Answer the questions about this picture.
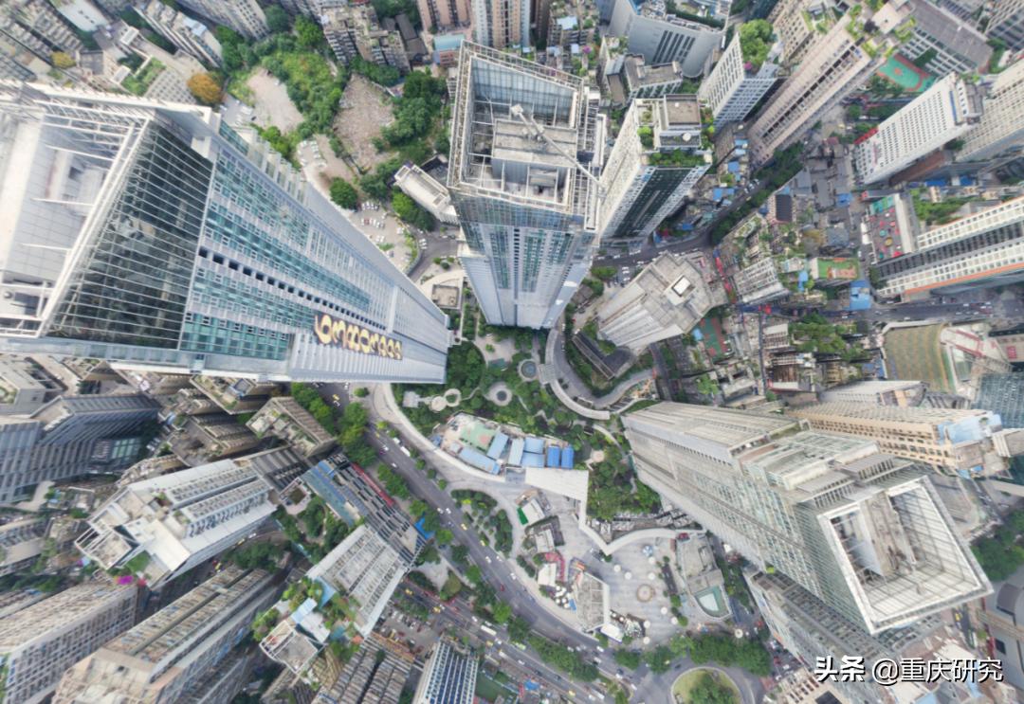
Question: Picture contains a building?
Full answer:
Yes, the photo shows a building.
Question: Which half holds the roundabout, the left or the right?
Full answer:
The roundabout appears in the right half of the scene.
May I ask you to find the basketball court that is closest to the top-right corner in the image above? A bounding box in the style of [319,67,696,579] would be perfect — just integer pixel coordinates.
[877,51,940,93]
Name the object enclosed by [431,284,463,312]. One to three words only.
building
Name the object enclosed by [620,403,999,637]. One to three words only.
building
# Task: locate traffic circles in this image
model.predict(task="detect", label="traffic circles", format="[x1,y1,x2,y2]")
[648,639,769,704]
